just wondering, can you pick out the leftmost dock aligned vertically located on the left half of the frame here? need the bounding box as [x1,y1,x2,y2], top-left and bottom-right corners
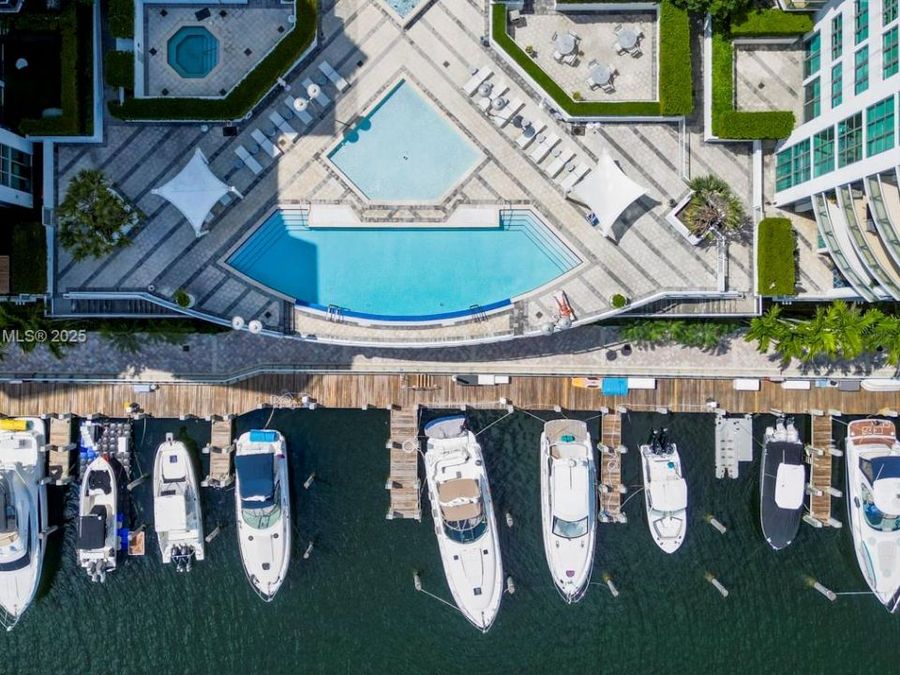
[49,417,74,478]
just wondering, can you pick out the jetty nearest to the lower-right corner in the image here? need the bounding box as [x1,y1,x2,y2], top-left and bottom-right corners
[809,416,831,524]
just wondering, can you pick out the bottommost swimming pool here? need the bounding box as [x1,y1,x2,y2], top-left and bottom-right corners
[223,200,587,323]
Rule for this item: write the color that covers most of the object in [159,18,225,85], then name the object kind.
blue swimming pool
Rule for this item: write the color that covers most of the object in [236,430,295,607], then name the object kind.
white boat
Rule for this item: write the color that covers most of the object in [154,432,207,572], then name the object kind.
white boat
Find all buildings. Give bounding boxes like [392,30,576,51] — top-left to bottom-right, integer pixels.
[776,0,900,319]
[0,0,87,208]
